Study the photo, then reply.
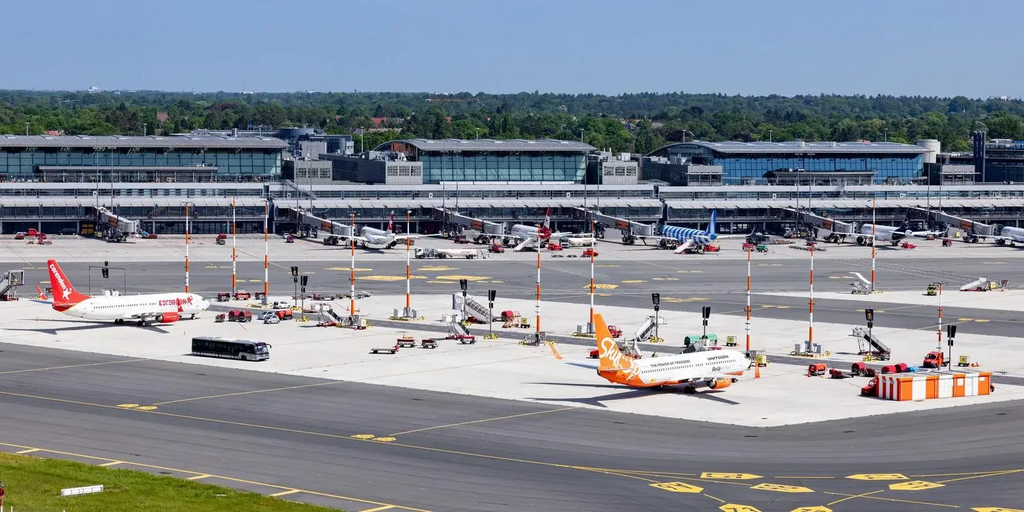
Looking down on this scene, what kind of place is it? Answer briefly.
airport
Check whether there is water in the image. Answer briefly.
No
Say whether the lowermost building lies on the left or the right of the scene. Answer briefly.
right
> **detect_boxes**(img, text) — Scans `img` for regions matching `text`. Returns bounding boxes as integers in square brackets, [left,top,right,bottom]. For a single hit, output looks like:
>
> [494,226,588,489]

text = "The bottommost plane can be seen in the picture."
[548,313,762,395]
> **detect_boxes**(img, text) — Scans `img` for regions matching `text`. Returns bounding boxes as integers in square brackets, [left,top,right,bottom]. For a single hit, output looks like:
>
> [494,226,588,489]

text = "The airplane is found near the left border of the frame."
[21,261,208,327]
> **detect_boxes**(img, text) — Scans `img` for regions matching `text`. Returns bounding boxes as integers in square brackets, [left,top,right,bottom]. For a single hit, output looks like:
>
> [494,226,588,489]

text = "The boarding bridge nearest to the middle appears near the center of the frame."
[426,205,515,241]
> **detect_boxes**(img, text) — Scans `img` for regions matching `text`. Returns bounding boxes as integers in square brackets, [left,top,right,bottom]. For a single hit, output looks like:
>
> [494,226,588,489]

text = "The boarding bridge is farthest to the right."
[906,206,1006,239]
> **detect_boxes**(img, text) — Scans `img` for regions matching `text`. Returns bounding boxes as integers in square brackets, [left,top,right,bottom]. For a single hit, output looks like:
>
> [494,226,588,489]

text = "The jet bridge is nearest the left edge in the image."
[91,205,144,242]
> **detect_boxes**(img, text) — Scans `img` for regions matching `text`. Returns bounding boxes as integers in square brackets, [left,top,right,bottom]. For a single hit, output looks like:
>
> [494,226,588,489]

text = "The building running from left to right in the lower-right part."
[875,371,990,400]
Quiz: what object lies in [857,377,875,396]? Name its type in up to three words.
vehicle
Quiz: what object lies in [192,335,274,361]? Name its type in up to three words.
bus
